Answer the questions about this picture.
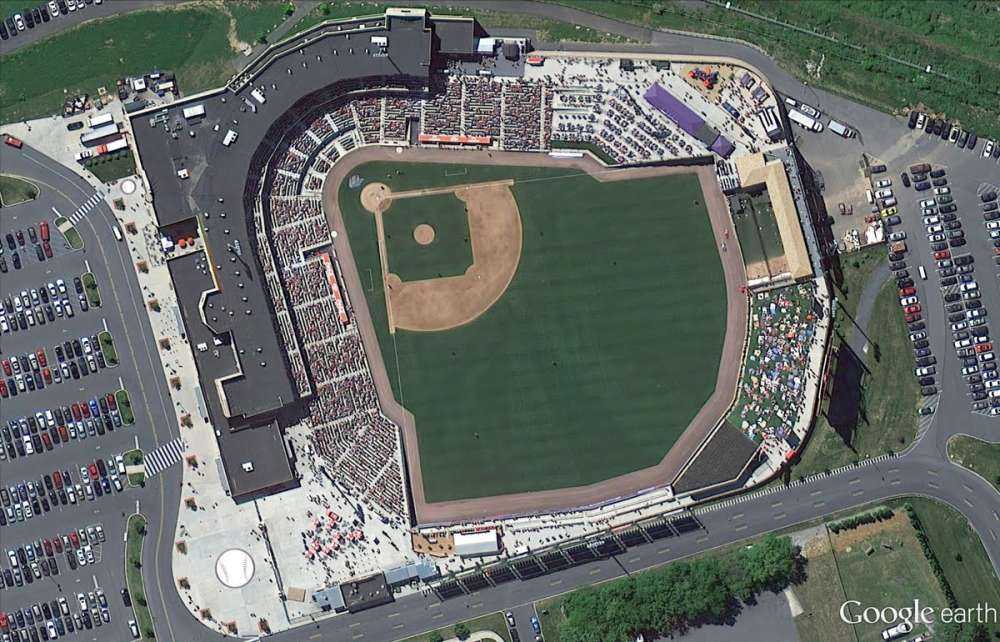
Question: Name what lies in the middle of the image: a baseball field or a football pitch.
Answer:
baseball field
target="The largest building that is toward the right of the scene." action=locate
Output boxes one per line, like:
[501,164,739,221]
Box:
[735,154,812,283]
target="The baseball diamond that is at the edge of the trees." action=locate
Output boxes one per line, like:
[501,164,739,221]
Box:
[322,148,749,526]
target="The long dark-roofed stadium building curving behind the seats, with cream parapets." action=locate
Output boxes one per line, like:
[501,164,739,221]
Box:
[127,12,475,497]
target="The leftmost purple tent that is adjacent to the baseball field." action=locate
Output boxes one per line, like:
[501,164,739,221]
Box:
[645,81,706,136]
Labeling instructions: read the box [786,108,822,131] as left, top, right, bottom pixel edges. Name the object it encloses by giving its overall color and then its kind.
white truck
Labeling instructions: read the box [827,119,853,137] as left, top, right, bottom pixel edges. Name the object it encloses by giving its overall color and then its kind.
white vehicle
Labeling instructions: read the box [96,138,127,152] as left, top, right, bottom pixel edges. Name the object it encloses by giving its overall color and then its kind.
white vehicle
